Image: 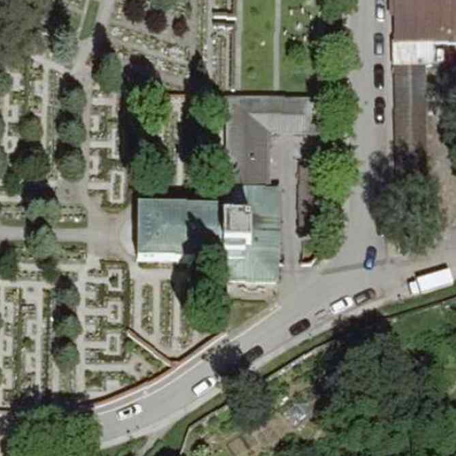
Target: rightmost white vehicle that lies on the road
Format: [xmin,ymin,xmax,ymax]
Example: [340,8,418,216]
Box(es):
[408,264,454,292]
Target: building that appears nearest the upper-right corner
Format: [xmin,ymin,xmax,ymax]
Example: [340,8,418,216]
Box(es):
[389,0,456,69]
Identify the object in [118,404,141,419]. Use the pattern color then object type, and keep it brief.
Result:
white car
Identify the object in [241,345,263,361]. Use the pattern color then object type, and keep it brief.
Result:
black car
